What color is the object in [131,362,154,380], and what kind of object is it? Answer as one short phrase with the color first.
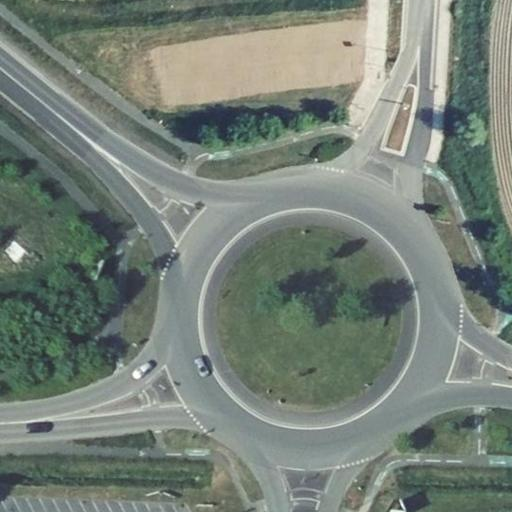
white car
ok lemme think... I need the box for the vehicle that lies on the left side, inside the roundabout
[194,356,209,378]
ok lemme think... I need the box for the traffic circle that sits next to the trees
[158,166,462,471]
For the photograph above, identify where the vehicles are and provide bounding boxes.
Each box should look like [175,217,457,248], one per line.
[194,356,209,378]
[131,362,154,380]
[27,422,54,432]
